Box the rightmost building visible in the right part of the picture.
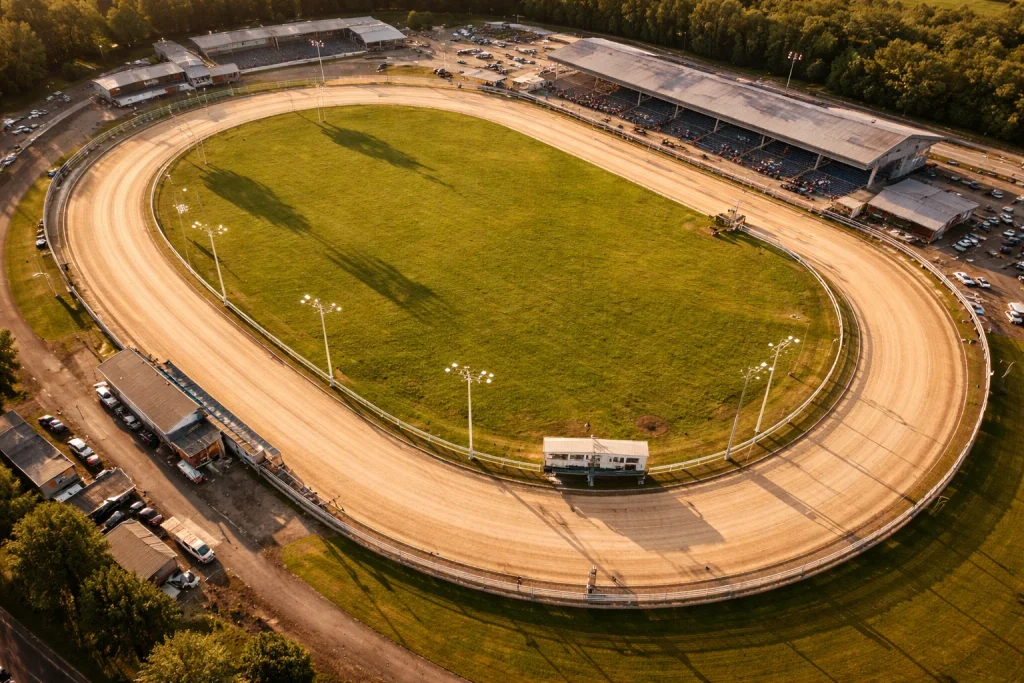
[866,178,979,245]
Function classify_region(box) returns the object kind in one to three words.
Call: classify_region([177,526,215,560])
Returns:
car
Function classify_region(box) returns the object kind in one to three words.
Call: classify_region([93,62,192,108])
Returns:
building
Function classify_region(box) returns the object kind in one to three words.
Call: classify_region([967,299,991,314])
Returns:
car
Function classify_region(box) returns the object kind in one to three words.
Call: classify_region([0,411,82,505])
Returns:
building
